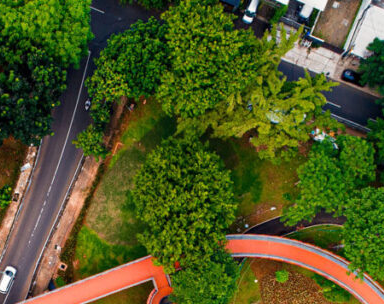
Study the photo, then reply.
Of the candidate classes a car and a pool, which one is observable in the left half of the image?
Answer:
car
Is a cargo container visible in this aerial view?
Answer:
No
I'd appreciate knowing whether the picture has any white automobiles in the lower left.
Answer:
Yes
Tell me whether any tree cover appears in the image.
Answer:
Yes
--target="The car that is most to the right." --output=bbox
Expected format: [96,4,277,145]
[341,69,368,88]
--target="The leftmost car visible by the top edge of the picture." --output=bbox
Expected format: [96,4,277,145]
[241,0,262,24]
